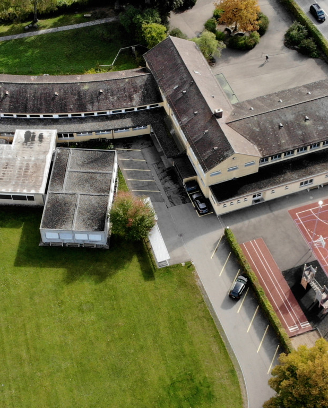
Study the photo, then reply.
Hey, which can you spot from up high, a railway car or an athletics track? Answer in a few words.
athletics track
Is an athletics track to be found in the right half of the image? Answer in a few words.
Yes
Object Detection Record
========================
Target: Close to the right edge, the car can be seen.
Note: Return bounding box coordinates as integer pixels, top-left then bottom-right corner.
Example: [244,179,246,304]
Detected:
[310,2,325,19]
